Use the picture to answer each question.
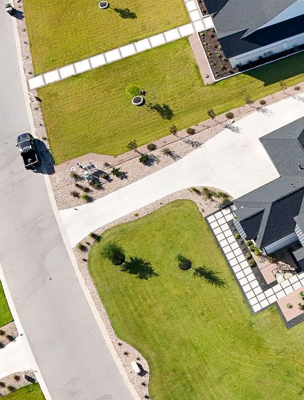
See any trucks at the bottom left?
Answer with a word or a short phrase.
No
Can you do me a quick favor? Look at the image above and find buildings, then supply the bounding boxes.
[233,117,304,270]
[205,0,304,70]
